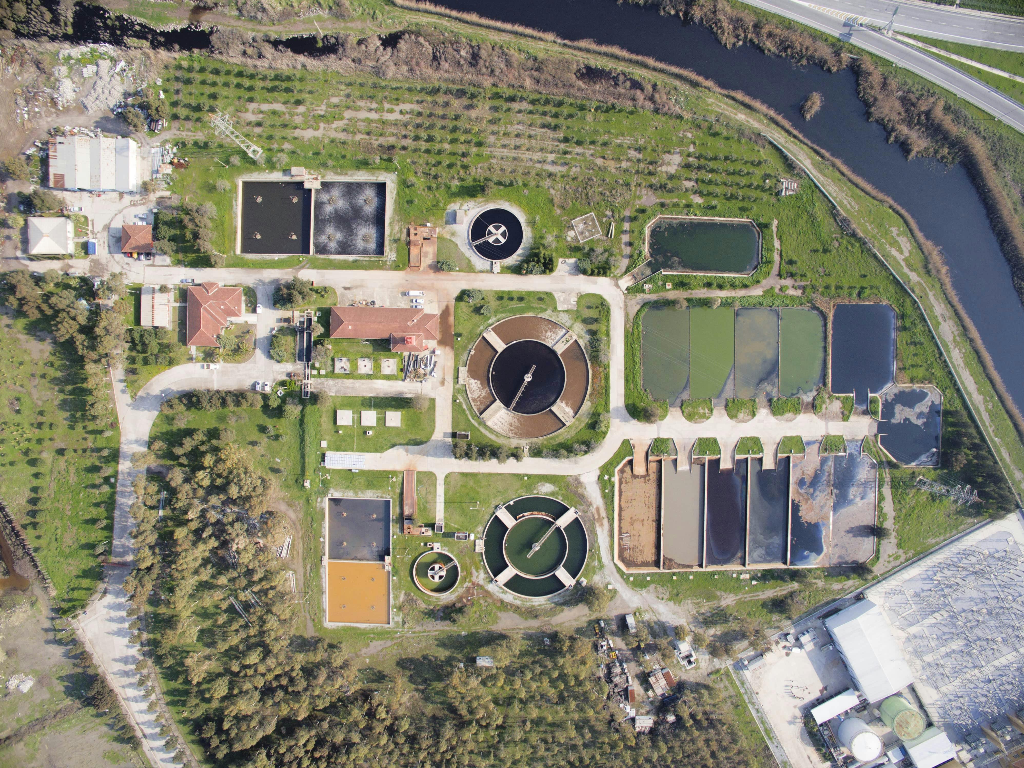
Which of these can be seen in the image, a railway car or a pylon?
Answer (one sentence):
Looking from above, you can make out a pylon.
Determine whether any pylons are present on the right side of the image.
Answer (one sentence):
Yes, I can see a pylon on the right side of the image.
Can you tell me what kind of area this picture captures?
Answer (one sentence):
What you see here is an industrial area.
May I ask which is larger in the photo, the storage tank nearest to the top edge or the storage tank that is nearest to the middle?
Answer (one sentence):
The storage tank that is nearest to the middle takes up more space than the storage tank nearest to the top edge.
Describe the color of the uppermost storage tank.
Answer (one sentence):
The color of the uppermost storage tank is black.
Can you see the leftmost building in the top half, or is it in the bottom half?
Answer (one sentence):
You can find the leftmost building in the top half.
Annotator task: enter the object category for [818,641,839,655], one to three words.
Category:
vehicle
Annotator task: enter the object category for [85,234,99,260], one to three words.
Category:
vehicle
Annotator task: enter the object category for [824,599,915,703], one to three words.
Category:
shed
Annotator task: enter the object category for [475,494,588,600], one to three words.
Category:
storage tank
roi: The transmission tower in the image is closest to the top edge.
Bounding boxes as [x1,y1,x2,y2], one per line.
[210,109,263,162]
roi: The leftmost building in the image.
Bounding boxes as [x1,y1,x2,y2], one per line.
[27,217,76,255]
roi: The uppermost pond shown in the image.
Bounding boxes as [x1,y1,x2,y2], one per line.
[618,215,761,293]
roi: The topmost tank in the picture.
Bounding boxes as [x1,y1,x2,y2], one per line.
[470,207,524,272]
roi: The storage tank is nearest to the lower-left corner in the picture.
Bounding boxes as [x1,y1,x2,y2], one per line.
[413,543,460,597]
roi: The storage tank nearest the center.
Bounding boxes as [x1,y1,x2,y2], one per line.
[458,315,590,439]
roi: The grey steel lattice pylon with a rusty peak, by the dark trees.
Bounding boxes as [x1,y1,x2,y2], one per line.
[909,473,985,506]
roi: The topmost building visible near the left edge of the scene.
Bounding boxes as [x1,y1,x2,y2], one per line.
[49,137,149,197]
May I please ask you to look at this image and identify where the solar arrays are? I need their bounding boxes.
[326,454,366,468]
